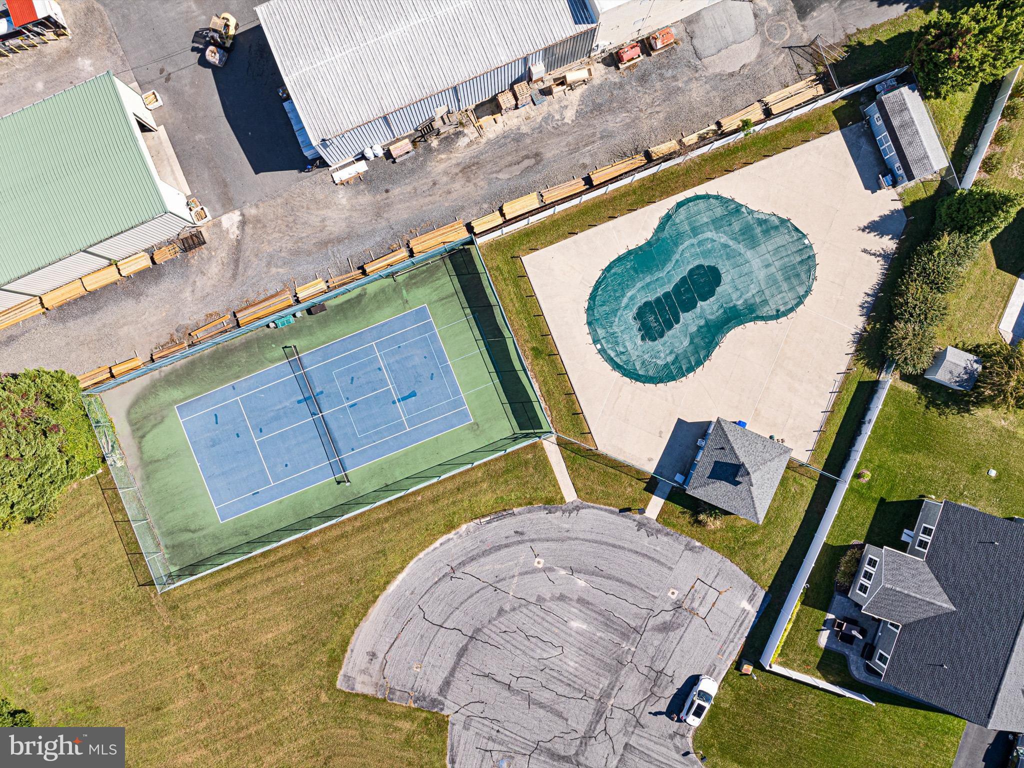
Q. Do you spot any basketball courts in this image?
No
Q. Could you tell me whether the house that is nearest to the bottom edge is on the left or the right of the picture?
right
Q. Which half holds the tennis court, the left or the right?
left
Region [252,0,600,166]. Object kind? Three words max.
building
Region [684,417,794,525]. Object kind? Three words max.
building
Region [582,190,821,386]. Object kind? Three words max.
swimming pool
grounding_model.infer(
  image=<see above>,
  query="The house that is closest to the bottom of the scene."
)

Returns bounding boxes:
[849,499,1024,734]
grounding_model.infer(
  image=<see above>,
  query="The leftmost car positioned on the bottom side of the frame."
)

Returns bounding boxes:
[681,671,717,728]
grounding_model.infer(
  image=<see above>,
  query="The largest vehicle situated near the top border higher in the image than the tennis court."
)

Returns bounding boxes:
[211,13,241,60]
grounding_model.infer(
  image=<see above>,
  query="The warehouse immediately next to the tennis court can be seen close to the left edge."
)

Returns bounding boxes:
[0,67,195,309]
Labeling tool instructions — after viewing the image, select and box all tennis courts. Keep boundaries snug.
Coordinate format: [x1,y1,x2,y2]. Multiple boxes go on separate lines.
[98,243,551,585]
